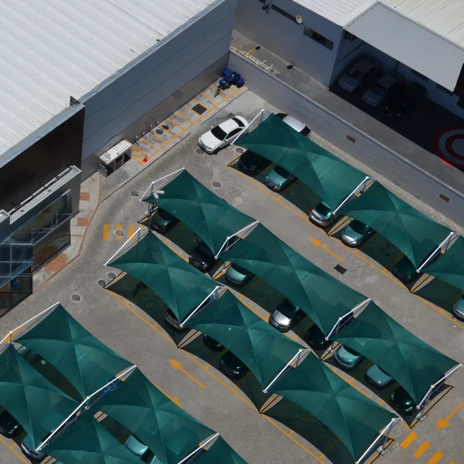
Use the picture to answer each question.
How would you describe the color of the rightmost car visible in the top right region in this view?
black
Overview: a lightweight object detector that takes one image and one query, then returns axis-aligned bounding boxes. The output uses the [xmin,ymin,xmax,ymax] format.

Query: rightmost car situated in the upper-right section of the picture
[385,78,428,119]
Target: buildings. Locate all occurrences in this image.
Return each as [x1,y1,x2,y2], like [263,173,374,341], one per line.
[0,0,239,317]
[331,0,464,113]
